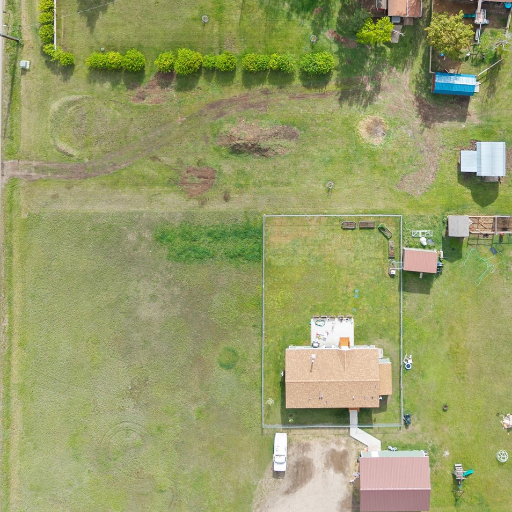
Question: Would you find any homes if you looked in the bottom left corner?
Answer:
No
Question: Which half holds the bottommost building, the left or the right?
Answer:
right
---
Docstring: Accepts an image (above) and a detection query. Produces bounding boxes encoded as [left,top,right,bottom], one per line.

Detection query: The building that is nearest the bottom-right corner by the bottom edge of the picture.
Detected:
[359,449,431,512]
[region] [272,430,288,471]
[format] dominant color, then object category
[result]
white vehicle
